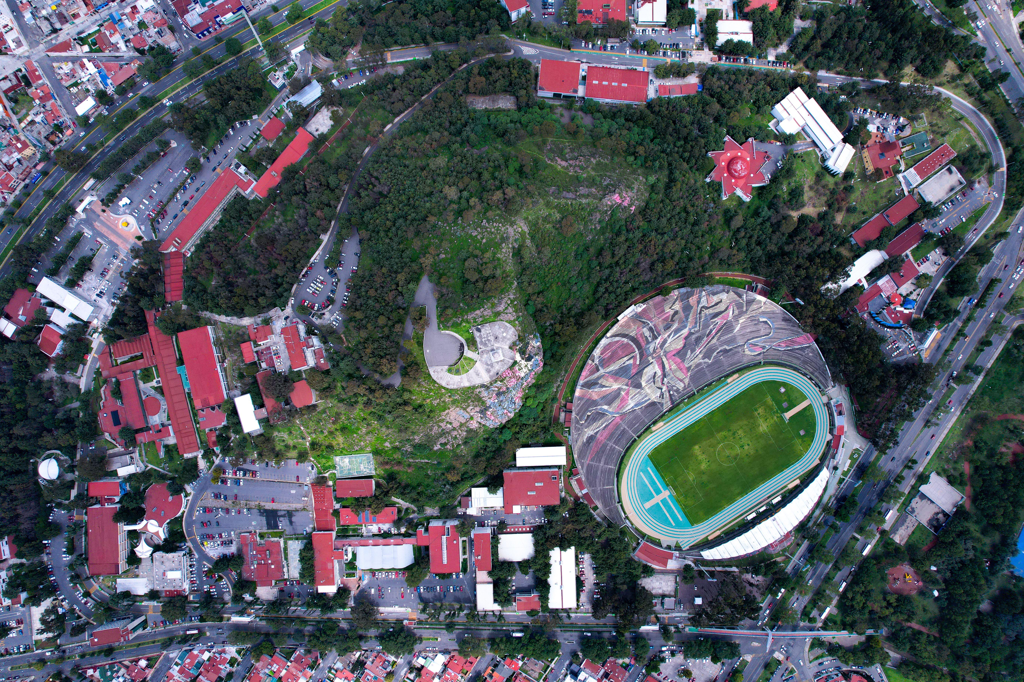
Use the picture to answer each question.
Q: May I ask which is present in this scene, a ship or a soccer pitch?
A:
soccer pitch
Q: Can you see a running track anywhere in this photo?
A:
Yes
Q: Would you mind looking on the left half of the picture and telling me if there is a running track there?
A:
No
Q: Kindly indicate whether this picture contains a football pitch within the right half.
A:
Yes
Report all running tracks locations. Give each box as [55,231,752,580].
[621,369,829,540]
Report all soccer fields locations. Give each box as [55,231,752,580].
[638,380,817,529]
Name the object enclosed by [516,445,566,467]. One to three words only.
building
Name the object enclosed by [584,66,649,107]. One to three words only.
building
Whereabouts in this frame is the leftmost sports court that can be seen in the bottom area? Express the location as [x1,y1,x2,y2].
[288,540,307,578]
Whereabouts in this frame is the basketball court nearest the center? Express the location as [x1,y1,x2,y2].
[334,453,375,478]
